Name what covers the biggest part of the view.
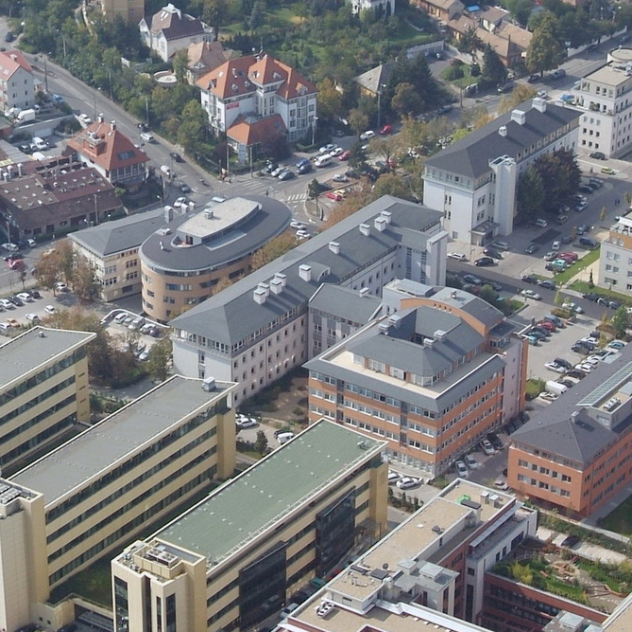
buildings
